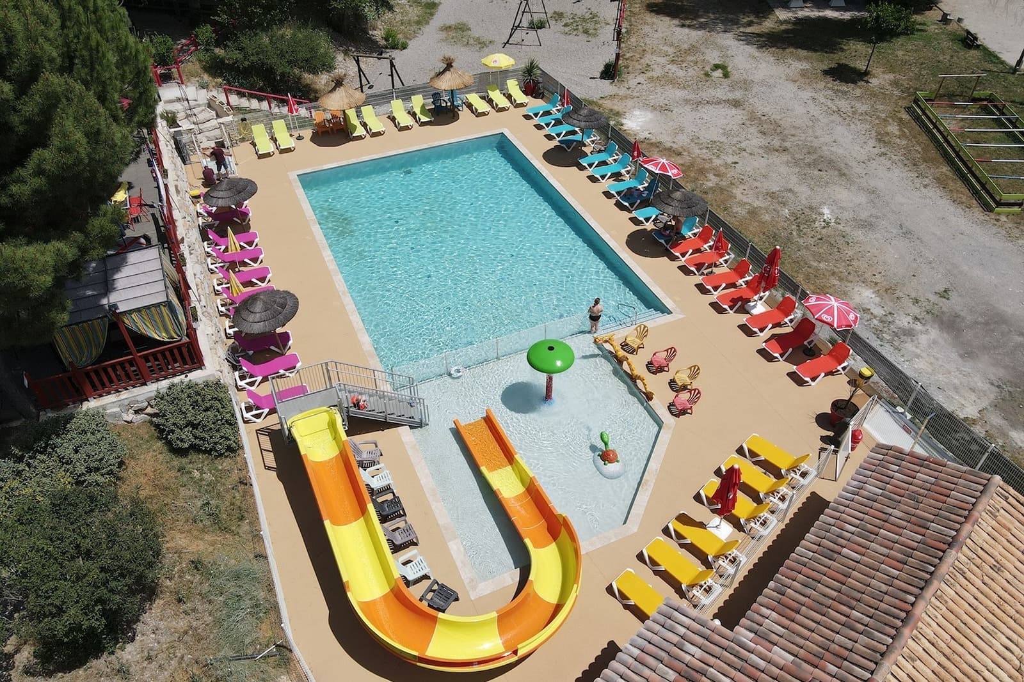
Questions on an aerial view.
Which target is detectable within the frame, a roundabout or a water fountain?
water fountain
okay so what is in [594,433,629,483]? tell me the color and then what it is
white fountain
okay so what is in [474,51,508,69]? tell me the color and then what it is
yellow umbrella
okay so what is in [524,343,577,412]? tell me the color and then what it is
green fountain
